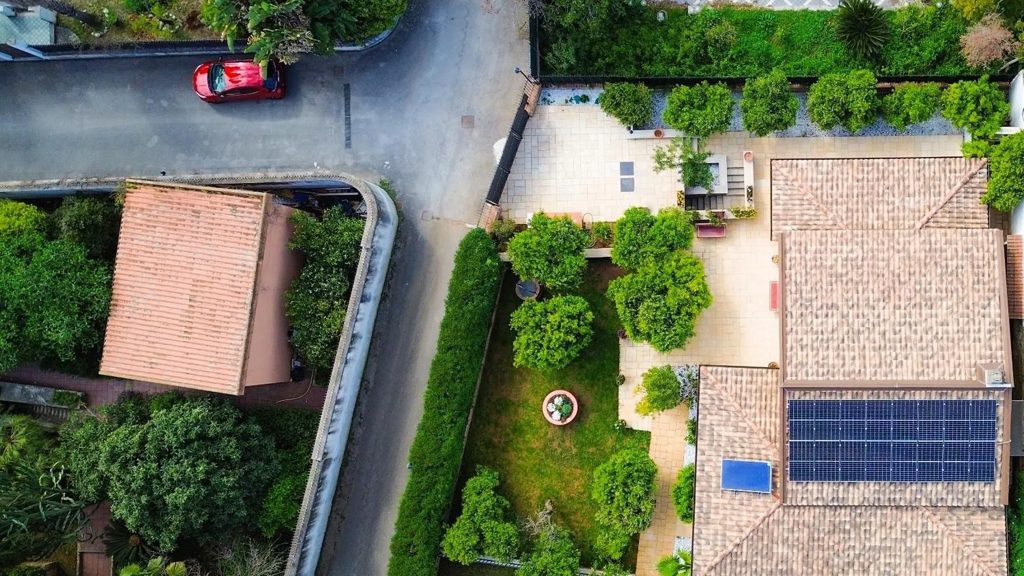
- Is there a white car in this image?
No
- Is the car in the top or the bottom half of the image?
top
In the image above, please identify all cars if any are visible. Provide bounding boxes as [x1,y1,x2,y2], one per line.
[193,52,288,106]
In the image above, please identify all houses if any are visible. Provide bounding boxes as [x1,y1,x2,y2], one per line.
[684,156,1013,576]
[98,178,306,397]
